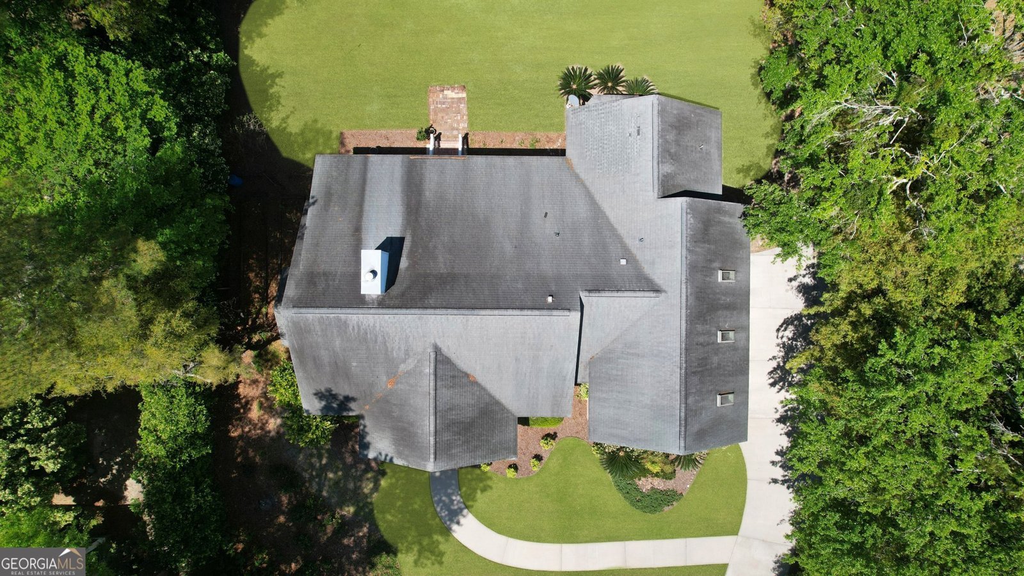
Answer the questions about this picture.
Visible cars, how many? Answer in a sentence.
There are no cars in this view.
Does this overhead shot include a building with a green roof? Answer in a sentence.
No, I can't see a single building with a green roof in this photo.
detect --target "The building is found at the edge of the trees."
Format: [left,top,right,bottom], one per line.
[274,95,749,470]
